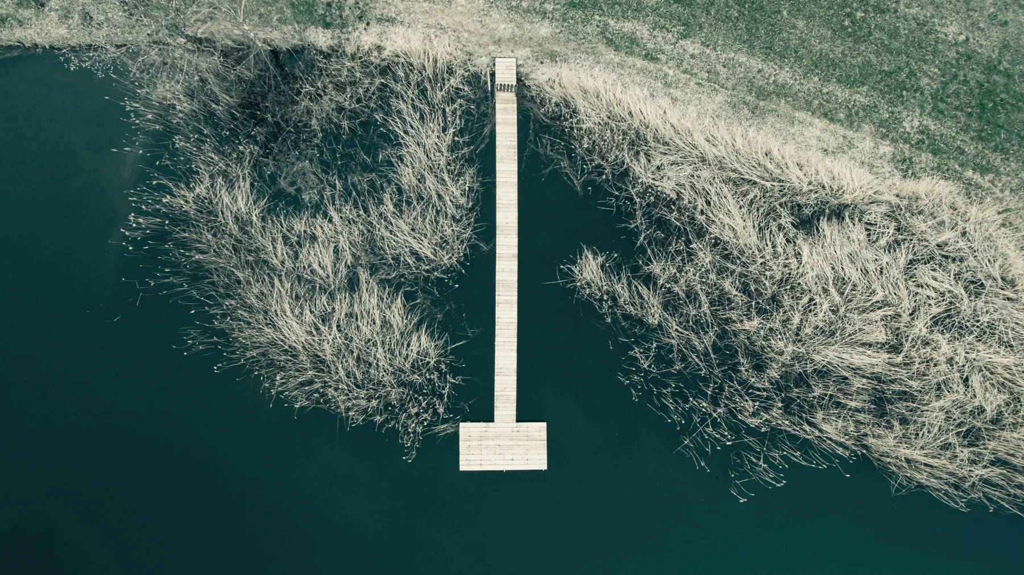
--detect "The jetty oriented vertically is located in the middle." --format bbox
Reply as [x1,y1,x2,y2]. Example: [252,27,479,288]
[459,58,547,473]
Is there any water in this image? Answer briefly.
Yes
